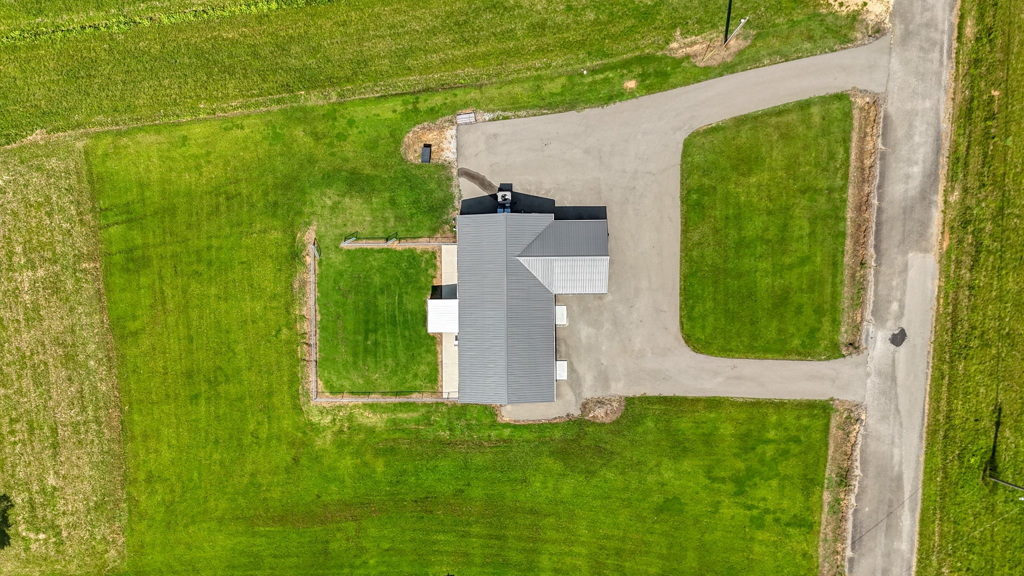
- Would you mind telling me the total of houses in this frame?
one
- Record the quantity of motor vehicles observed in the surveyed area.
0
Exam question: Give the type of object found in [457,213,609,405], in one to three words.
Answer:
house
